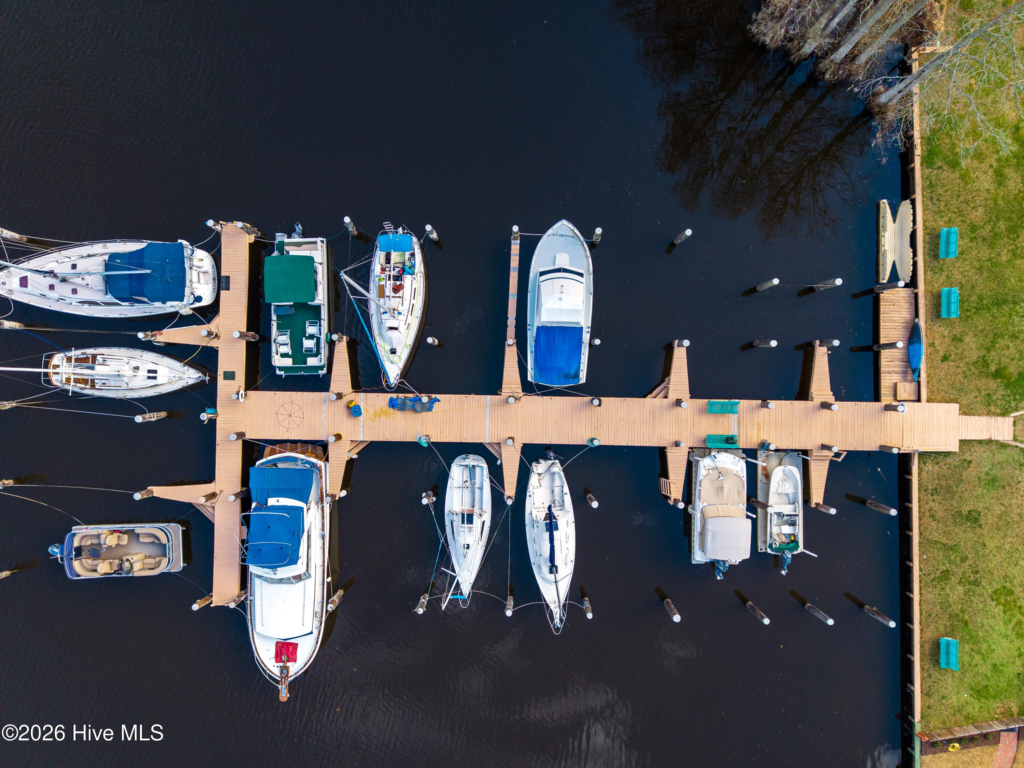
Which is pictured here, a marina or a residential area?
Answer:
marina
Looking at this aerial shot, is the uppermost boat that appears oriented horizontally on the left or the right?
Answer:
left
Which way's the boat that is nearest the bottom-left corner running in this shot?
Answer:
horizontally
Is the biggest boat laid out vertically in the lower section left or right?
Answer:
left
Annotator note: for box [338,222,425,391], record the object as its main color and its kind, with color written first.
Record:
white boat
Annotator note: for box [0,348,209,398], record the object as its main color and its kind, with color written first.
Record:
white boat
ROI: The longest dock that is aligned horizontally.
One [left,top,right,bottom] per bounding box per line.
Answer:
[244,391,959,451]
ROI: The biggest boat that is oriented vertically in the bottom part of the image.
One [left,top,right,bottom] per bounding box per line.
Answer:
[233,443,333,701]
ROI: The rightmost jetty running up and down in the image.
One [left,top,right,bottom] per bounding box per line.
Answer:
[877,289,918,401]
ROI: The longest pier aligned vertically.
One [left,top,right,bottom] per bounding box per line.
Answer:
[211,220,256,605]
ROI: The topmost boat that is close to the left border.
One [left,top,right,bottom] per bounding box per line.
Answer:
[0,230,219,318]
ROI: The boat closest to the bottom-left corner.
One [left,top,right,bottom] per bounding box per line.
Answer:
[44,522,187,578]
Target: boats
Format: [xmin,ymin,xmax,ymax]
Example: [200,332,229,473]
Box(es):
[0,348,209,398]
[692,450,751,585]
[265,222,331,378]
[338,222,425,391]
[233,443,333,701]
[765,465,803,575]
[44,522,187,578]
[0,230,219,318]
[440,453,492,612]
[527,218,594,386]
[524,444,576,634]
